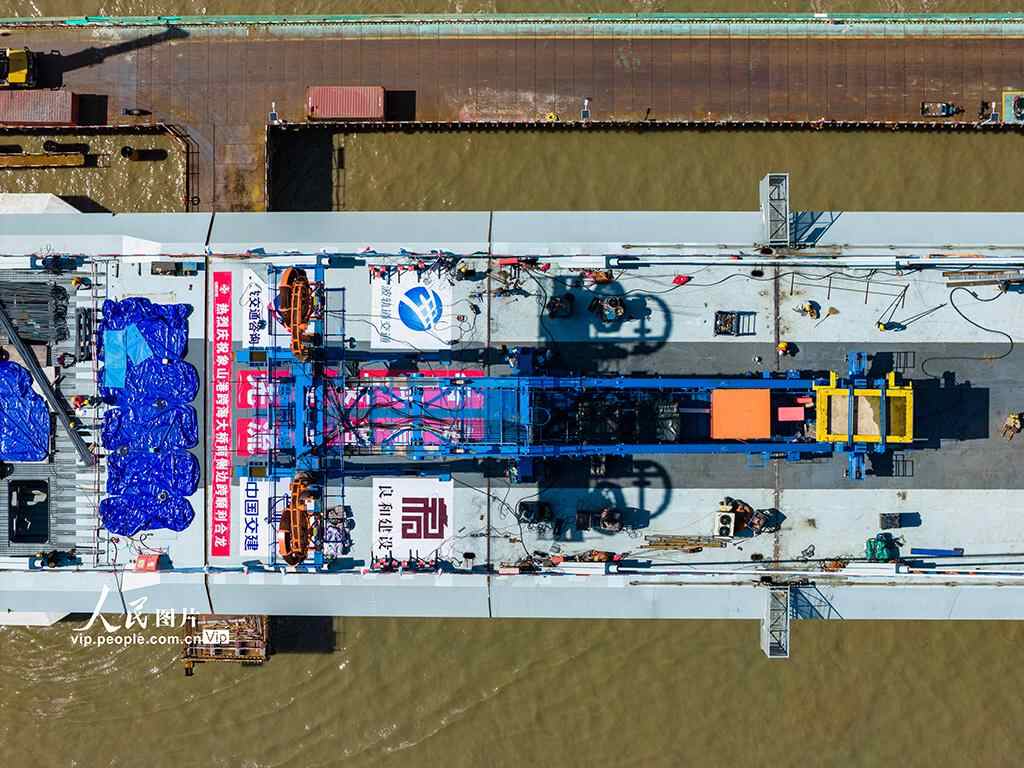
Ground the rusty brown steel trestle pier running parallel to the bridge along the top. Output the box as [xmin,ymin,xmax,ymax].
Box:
[0,13,1024,212]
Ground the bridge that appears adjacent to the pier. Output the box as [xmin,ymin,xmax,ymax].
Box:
[0,211,1024,618]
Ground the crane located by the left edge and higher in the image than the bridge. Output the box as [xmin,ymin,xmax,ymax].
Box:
[0,48,46,91]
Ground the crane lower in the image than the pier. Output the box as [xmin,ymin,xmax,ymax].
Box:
[212,263,913,570]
